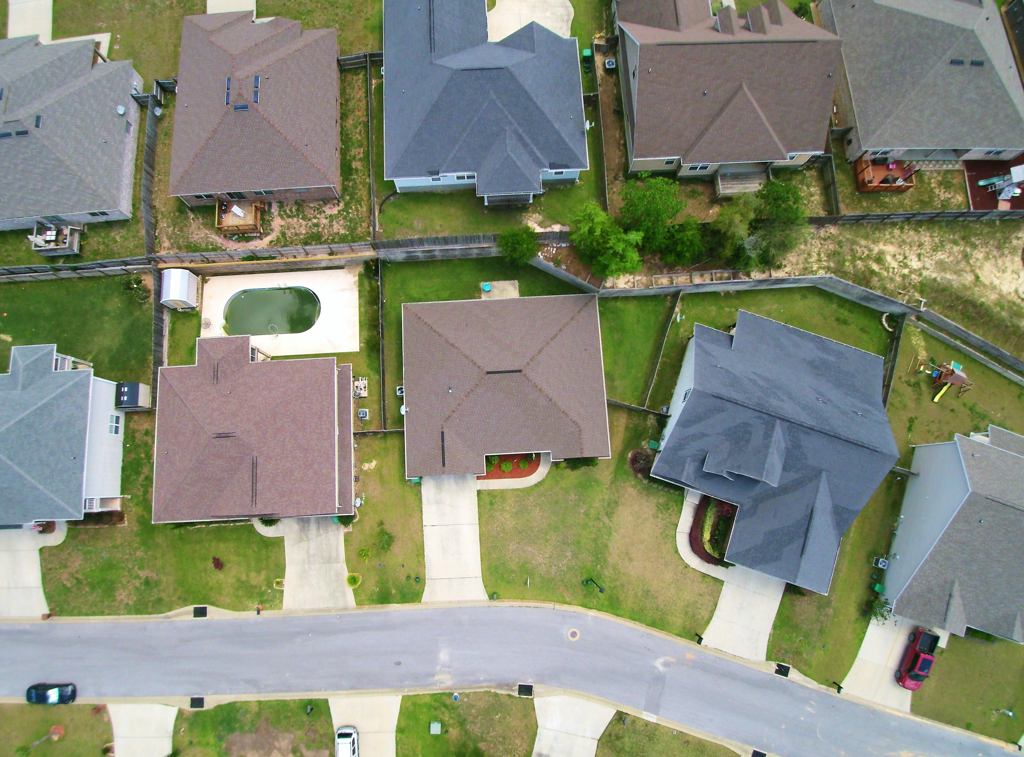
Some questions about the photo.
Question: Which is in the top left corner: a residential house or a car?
residential house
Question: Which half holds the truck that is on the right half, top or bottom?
bottom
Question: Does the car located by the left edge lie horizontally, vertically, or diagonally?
horizontally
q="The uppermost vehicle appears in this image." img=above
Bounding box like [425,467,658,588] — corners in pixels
[896,622,943,694]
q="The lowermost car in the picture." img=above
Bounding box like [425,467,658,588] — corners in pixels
[333,724,357,757]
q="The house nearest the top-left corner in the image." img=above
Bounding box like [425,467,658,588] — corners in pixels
[0,33,145,234]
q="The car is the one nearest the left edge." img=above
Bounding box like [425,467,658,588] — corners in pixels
[21,683,79,709]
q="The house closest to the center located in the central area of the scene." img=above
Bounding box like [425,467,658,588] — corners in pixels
[401,293,611,480]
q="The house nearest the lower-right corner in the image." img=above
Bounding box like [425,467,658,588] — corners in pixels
[875,424,1024,645]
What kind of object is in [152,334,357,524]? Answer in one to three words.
house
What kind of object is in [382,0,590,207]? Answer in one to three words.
house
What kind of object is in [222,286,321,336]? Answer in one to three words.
swimming pool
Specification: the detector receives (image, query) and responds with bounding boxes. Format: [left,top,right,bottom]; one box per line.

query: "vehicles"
[21,683,79,709]
[896,622,943,694]
[333,724,357,757]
